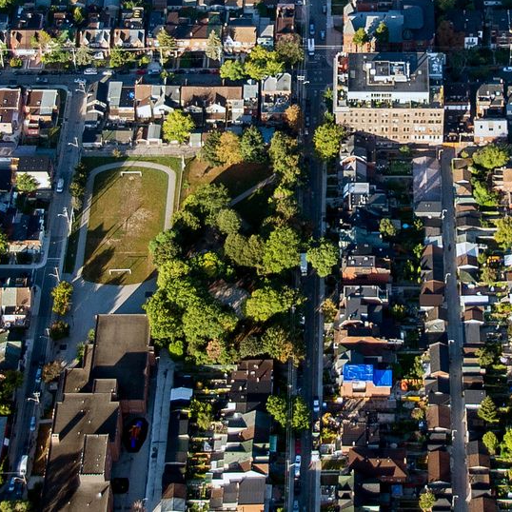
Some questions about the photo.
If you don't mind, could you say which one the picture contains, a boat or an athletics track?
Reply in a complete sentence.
There is an athletics track in the scene.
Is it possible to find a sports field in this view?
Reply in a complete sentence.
Yes, you can see a sports field in this photo.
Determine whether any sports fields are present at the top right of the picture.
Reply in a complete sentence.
No, I can find no sports field at the top right of the picture.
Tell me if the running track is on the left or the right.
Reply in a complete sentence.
The running track appears in the left half of the scene.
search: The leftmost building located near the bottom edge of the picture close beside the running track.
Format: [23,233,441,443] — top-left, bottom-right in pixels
[45,315,149,512]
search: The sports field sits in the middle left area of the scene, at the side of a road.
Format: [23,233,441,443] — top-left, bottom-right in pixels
[84,167,168,284]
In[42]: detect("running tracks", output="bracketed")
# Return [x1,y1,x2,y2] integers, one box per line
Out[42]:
[69,161,178,287]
